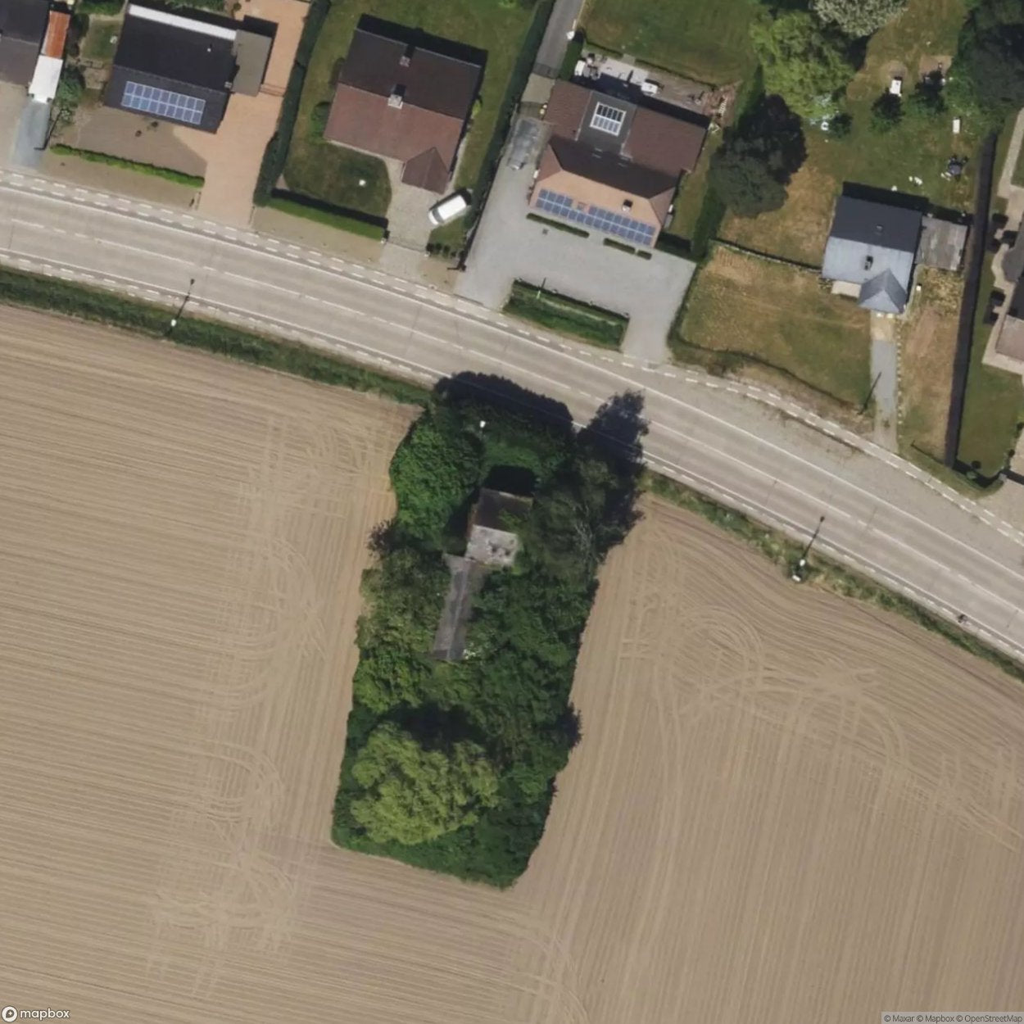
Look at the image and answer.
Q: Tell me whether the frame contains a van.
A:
Yes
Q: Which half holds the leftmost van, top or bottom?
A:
top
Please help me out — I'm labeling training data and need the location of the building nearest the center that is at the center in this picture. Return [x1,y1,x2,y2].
[463,489,533,572]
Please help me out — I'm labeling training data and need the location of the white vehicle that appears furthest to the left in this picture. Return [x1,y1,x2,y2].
[428,191,470,224]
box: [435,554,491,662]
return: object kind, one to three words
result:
barn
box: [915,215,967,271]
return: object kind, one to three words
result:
shed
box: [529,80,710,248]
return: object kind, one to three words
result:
house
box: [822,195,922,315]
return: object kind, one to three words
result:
house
